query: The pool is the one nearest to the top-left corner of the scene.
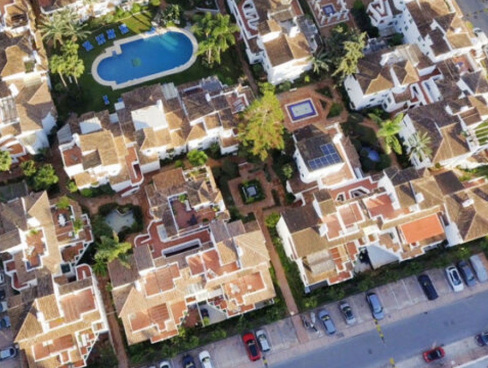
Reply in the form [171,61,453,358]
[92,27,197,90]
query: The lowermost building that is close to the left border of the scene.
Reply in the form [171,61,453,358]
[6,270,110,368]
